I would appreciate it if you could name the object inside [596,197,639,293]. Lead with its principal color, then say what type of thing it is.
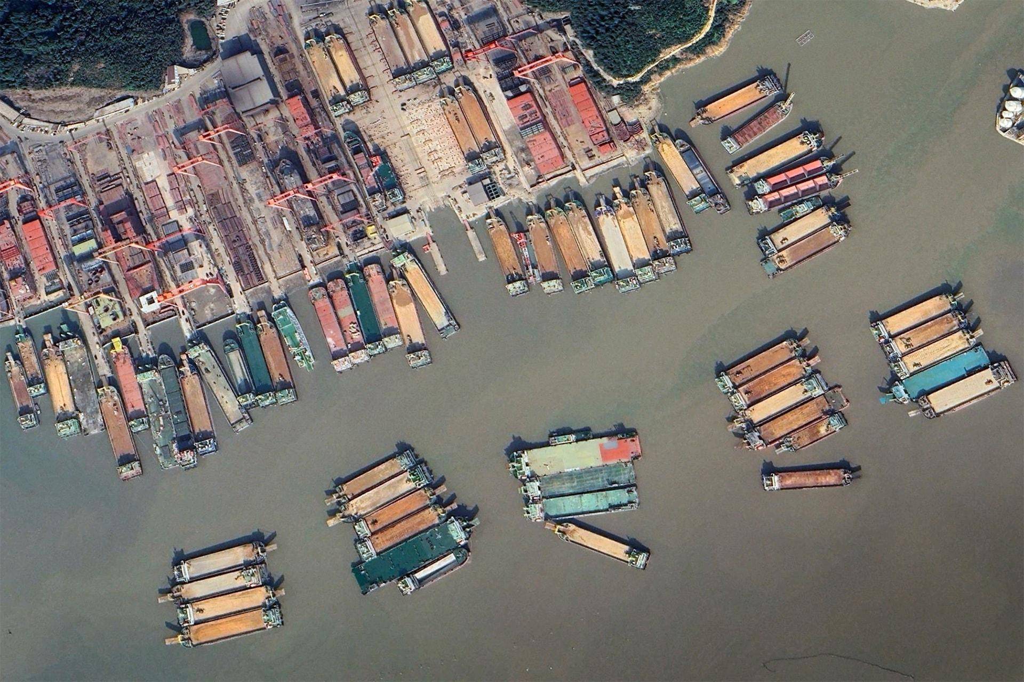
white ship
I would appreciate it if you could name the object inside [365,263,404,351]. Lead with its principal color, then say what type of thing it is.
pink ship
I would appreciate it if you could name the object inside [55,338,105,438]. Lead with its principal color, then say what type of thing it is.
gray ship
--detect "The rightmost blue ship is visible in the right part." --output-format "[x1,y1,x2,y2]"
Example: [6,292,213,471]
[883,345,993,402]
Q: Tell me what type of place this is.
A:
port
